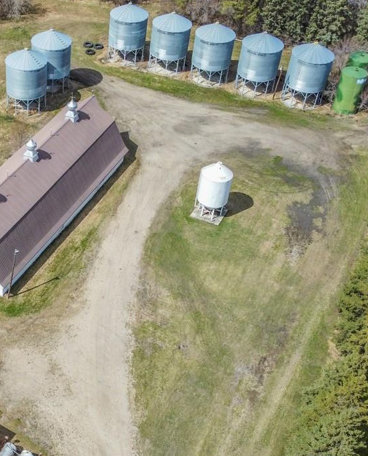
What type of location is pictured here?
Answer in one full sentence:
This looks like an industrial area.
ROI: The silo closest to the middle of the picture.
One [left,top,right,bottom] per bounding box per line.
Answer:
[197,160,237,219]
